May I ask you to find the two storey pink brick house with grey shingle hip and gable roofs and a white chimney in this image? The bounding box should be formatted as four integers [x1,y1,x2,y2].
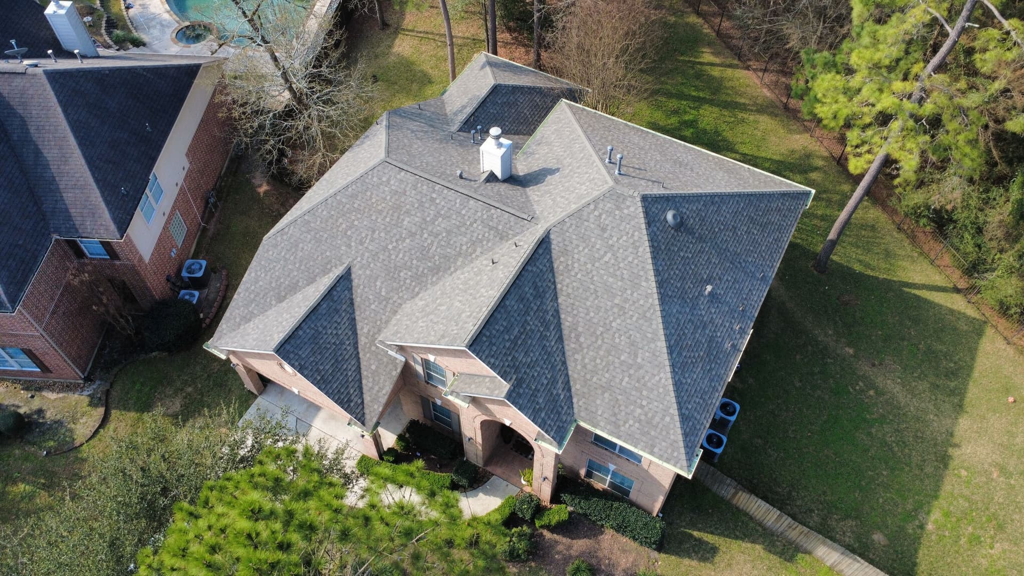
[203,51,817,520]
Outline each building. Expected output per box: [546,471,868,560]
[203,51,817,520]
[0,0,233,379]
